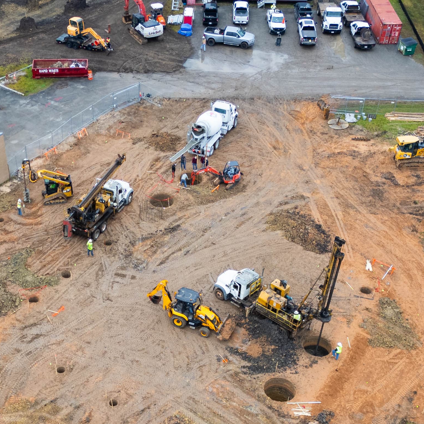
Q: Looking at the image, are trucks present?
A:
Yes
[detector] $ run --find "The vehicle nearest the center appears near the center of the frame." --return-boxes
[189,159,253,192]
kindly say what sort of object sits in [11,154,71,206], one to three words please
work vehicle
